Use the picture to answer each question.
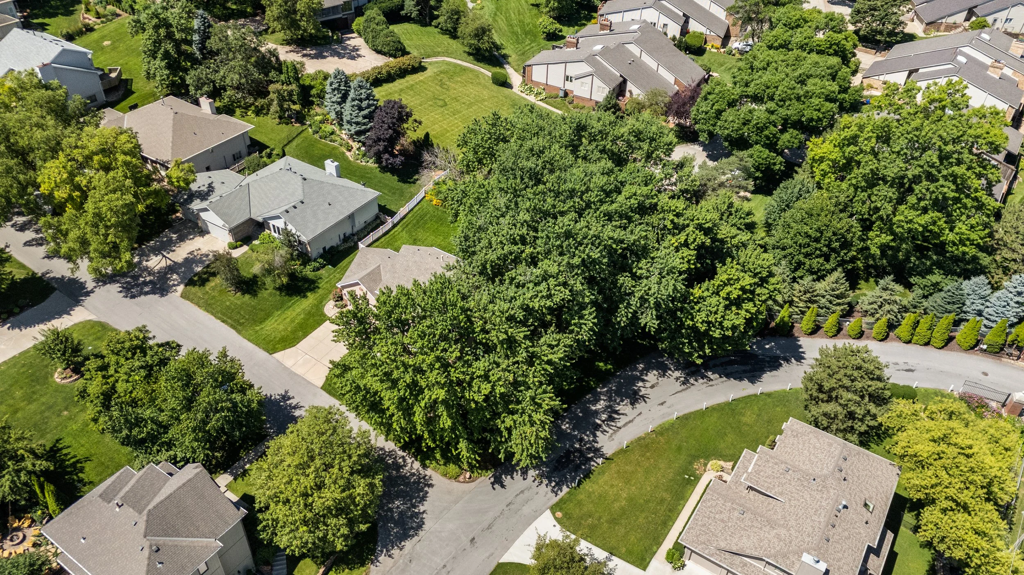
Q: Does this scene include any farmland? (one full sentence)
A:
No, farmland can't be seen anywhere here.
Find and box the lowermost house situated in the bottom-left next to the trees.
[39,461,254,575]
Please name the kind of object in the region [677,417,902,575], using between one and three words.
house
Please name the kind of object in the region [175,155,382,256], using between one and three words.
house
